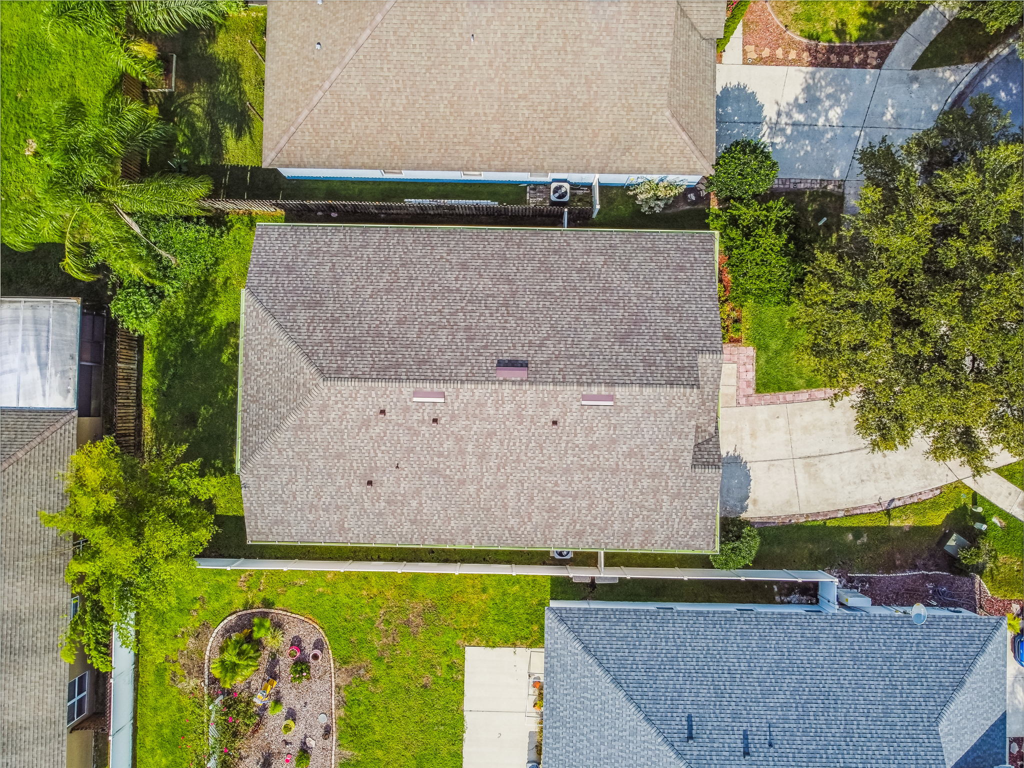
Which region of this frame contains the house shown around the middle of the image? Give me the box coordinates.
[236,222,723,553]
